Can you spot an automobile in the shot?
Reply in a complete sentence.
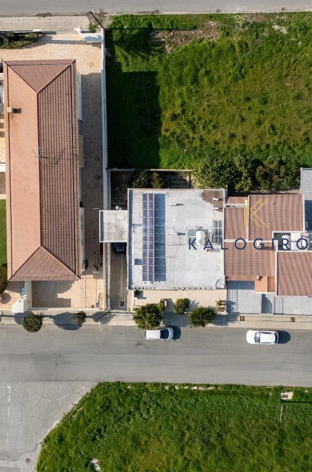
Yes, looking at the shot, I can spot an automobile.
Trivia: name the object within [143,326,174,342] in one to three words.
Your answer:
car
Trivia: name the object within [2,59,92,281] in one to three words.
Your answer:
house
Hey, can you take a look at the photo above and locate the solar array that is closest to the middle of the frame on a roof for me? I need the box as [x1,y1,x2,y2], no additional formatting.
[142,193,154,282]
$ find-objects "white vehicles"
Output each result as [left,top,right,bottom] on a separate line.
[143,326,174,342]
[246,329,278,346]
